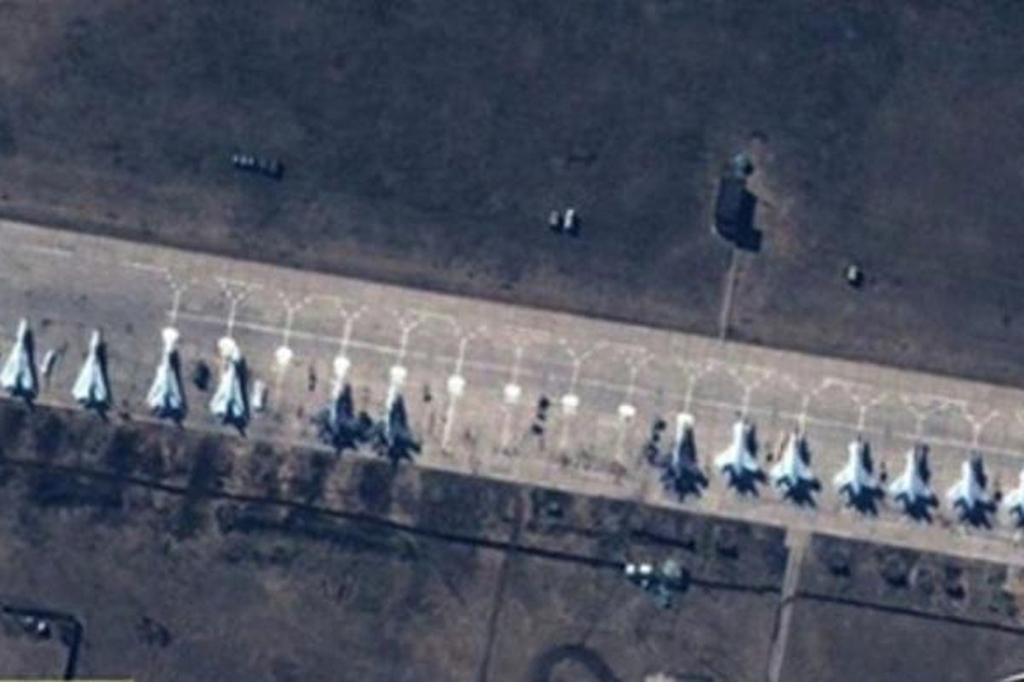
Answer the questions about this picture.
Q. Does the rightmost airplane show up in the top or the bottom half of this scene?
bottom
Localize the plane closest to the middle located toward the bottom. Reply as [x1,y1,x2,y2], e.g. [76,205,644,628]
[371,392,414,457]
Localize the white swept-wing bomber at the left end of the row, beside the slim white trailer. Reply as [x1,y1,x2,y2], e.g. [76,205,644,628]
[2,317,33,387]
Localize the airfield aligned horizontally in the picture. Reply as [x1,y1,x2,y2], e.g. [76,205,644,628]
[0,219,1024,565]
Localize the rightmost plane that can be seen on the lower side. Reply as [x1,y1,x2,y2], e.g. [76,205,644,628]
[1004,484,1024,525]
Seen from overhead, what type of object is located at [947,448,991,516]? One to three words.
airplane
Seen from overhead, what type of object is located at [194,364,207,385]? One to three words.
vehicle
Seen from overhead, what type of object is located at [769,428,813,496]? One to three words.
airplane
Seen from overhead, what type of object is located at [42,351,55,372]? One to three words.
vehicle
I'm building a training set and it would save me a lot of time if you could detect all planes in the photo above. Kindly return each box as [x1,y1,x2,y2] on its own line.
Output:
[889,442,933,510]
[833,439,876,504]
[319,380,362,448]
[2,317,33,387]
[212,342,243,415]
[74,330,105,399]
[371,392,414,457]
[714,421,757,486]
[148,334,179,406]
[1004,484,1024,525]
[769,428,813,496]
[659,425,703,491]
[947,448,991,516]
